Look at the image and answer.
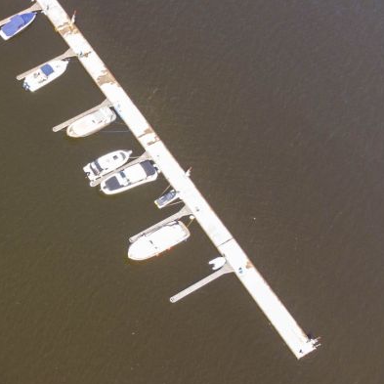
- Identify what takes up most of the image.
water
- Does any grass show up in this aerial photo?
No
